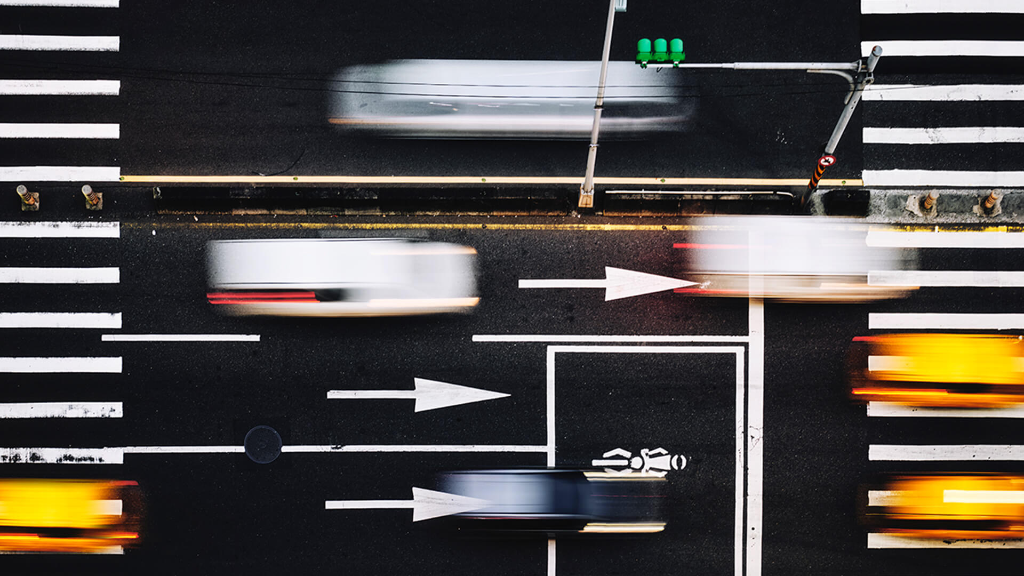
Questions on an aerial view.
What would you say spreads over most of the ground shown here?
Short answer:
paved ground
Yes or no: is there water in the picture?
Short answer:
No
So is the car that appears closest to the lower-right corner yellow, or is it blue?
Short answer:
yellow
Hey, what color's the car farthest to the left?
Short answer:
yellow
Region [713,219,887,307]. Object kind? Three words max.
vehicle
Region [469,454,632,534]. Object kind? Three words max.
car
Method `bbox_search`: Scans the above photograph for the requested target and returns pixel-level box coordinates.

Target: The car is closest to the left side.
[0,481,103,552]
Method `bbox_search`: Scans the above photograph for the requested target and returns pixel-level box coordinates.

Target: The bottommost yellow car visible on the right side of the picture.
[908,467,1024,538]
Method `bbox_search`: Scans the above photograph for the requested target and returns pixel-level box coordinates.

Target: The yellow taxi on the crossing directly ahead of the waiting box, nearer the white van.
[901,325,1024,408]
